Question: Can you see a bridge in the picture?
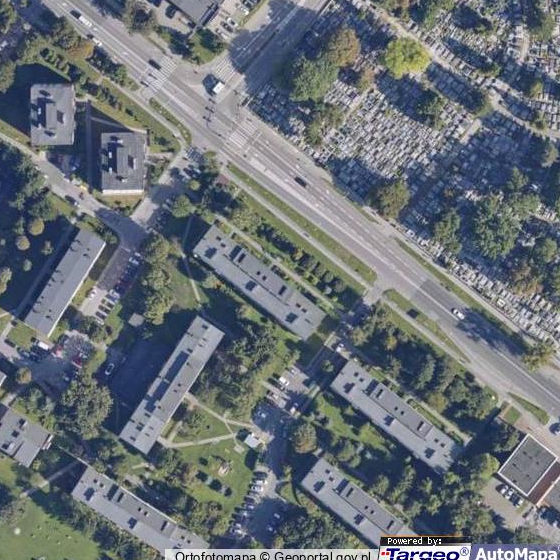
No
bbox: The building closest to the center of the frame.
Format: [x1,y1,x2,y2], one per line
[192,224,325,343]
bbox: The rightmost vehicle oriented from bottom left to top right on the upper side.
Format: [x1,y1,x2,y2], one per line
[210,80,225,94]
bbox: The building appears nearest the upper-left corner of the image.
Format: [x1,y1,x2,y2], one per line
[30,84,76,149]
